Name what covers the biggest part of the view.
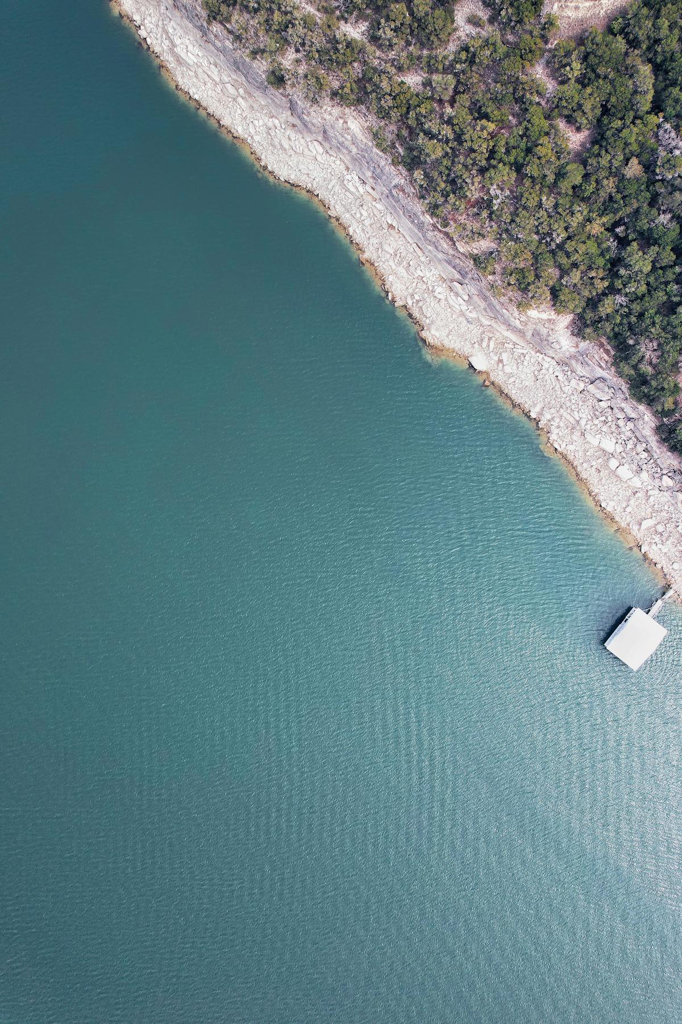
water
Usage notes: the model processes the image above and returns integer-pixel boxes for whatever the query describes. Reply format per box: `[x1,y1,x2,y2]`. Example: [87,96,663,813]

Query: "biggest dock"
[604,607,667,670]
